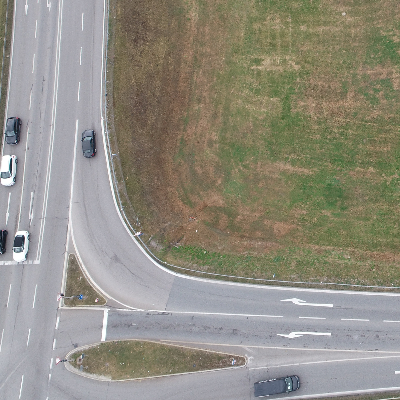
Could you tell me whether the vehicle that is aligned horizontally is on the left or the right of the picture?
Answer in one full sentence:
The vehicle that is aligned horizontally appears in the right half of the scene.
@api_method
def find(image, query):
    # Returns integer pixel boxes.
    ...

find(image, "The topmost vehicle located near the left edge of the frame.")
[4,117,22,145]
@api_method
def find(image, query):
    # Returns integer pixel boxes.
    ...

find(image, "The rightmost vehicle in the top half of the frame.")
[81,130,97,158]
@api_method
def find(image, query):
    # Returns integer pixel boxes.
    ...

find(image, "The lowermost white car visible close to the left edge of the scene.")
[11,231,30,263]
